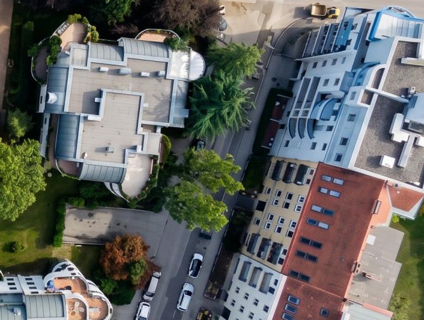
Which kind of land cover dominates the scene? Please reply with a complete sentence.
The bulk of the photo consists of buildings.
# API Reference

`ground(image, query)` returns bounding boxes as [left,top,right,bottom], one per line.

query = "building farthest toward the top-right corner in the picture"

[270,6,424,194]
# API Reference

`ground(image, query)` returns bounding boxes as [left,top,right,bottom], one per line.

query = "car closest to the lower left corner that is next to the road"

[133,300,150,320]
